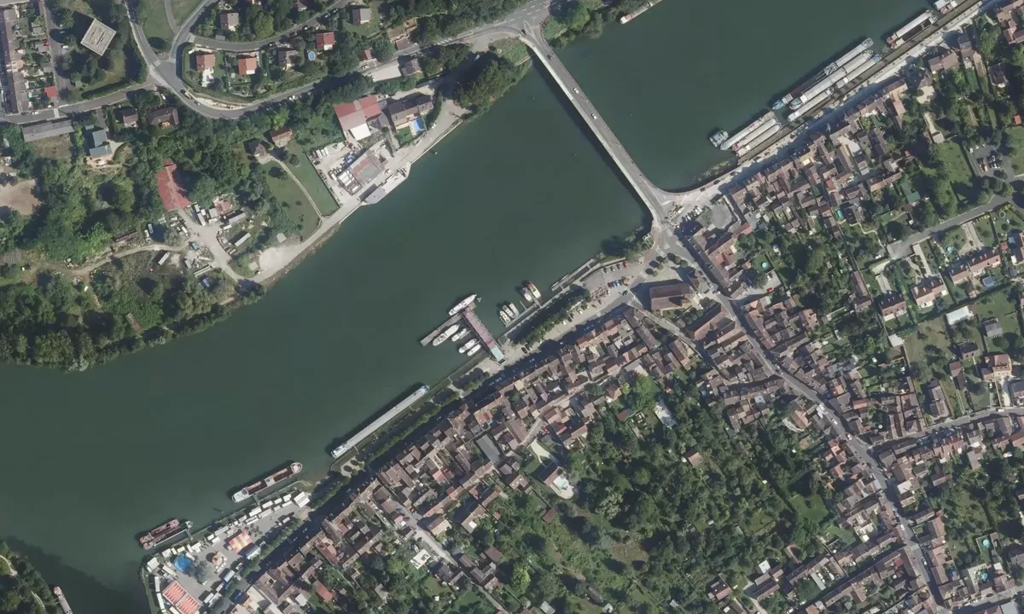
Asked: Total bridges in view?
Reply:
1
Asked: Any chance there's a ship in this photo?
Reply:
Yes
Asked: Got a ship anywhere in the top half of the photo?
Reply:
Yes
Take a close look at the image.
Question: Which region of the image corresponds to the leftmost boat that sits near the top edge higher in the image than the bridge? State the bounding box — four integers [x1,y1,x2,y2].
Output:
[621,0,663,23]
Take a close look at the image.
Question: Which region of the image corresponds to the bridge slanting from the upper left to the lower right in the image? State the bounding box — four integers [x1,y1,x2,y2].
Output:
[524,29,663,219]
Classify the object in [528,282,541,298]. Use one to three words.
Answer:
boat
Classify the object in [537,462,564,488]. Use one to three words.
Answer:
house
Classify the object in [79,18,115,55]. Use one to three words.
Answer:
building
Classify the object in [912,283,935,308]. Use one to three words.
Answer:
house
